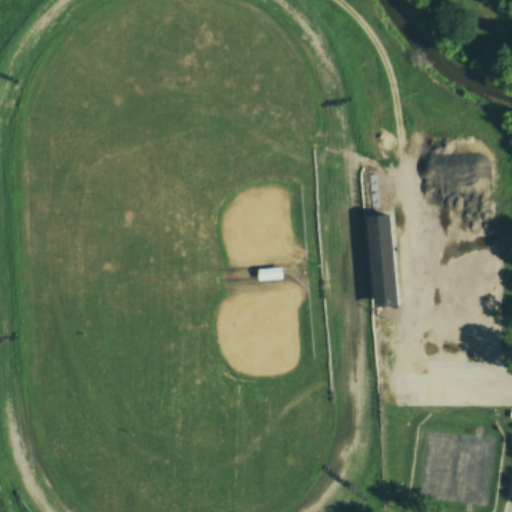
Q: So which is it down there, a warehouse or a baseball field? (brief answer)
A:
baseball field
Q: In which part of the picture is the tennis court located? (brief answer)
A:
bottom right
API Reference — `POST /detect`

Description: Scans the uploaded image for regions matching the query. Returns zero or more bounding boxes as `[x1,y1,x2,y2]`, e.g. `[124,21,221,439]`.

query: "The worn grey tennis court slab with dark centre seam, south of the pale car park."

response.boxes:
[422,430,496,512]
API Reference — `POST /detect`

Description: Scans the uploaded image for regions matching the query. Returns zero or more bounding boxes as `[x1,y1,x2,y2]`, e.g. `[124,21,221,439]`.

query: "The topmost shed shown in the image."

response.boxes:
[258,267,284,281]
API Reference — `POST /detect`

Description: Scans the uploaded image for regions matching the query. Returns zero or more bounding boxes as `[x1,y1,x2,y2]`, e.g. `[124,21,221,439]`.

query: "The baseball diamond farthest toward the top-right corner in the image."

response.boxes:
[222,186,306,270]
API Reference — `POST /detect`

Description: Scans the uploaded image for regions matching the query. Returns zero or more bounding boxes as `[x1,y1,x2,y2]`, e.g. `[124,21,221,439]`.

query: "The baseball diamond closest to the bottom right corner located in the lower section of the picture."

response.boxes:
[218,275,306,376]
